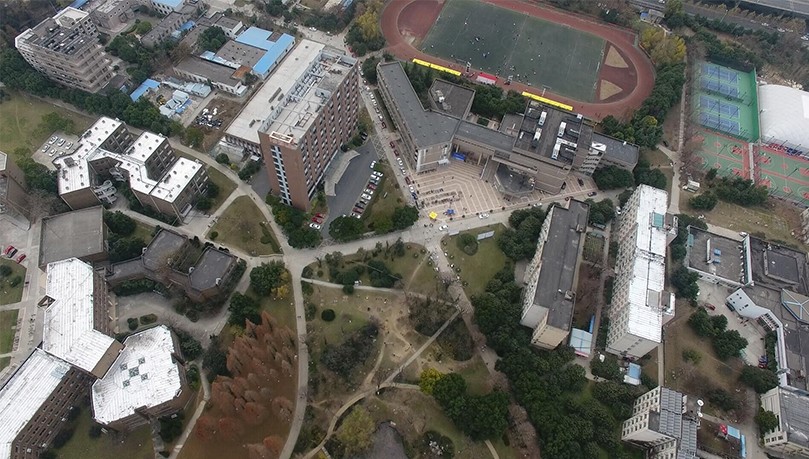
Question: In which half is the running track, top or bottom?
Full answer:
Seen from above, the running track lies in the top half of the view.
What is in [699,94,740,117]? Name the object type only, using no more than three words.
tennis court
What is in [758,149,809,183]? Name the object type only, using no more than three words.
basketball court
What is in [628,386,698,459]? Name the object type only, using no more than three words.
building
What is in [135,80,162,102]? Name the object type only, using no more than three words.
shed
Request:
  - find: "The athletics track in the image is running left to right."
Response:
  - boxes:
[383,0,653,115]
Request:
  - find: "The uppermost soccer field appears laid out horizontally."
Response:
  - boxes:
[415,0,594,100]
